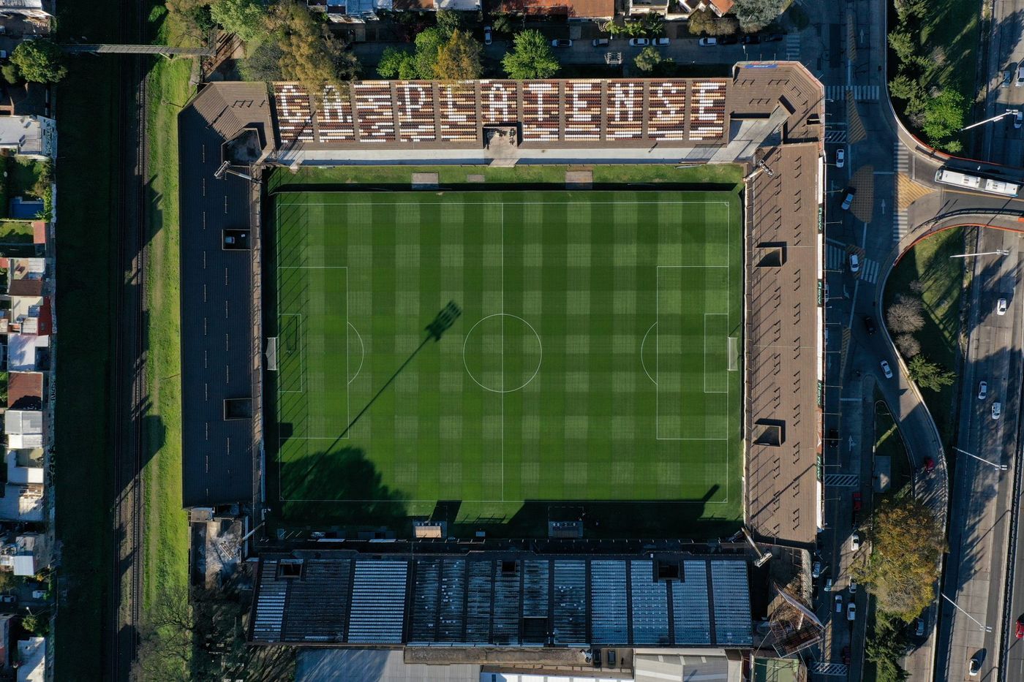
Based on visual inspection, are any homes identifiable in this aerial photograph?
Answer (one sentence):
Yes, there's a home down there.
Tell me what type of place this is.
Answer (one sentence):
What you see here is a sports ground.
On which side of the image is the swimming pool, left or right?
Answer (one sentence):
You can find the swimming pool on the left side of the picture.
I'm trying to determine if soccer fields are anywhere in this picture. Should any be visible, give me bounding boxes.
[277,202,730,520]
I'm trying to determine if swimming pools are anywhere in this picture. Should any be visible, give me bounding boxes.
[10,197,46,219]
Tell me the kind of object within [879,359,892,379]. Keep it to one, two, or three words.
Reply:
vehicle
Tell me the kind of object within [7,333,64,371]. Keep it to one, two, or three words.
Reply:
house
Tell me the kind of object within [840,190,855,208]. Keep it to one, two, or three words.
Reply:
car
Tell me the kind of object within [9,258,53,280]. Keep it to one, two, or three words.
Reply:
house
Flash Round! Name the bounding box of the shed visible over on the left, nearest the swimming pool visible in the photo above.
[33,222,53,245]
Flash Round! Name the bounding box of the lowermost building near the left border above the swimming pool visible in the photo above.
[0,115,53,162]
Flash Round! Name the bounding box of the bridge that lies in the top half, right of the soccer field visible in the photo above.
[894,145,1024,265]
